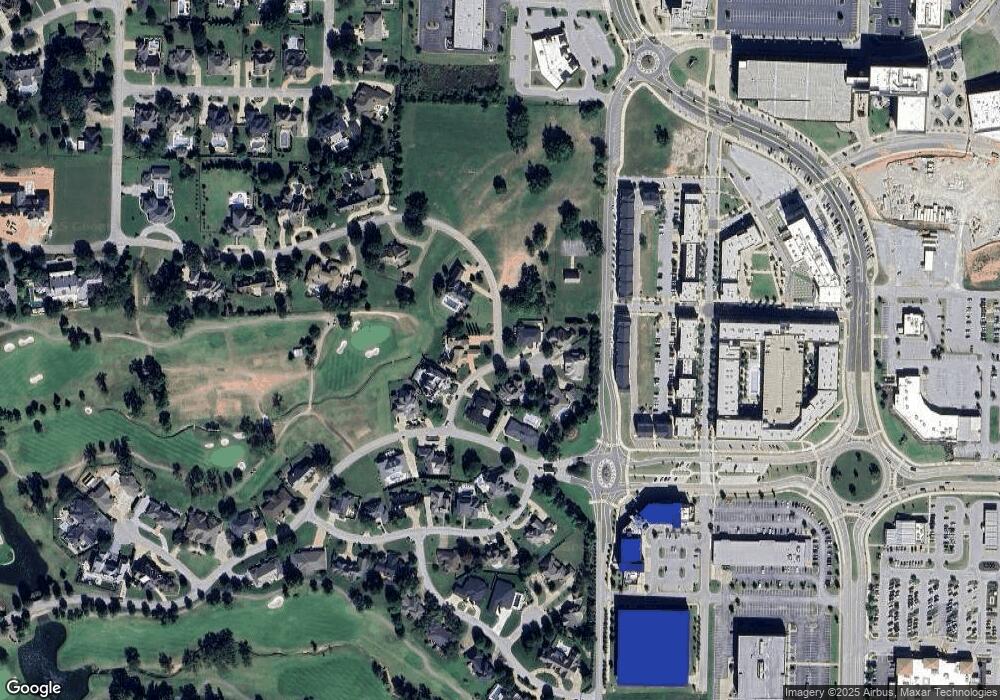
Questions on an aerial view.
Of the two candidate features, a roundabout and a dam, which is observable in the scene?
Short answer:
roundabout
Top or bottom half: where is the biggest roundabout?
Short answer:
bottom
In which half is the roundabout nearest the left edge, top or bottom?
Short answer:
bottom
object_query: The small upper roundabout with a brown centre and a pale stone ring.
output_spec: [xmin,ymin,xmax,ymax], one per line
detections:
[623,35,667,96]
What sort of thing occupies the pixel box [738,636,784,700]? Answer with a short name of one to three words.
building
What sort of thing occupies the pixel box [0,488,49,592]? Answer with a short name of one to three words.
pond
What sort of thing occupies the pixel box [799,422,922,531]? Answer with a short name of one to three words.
roundabout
